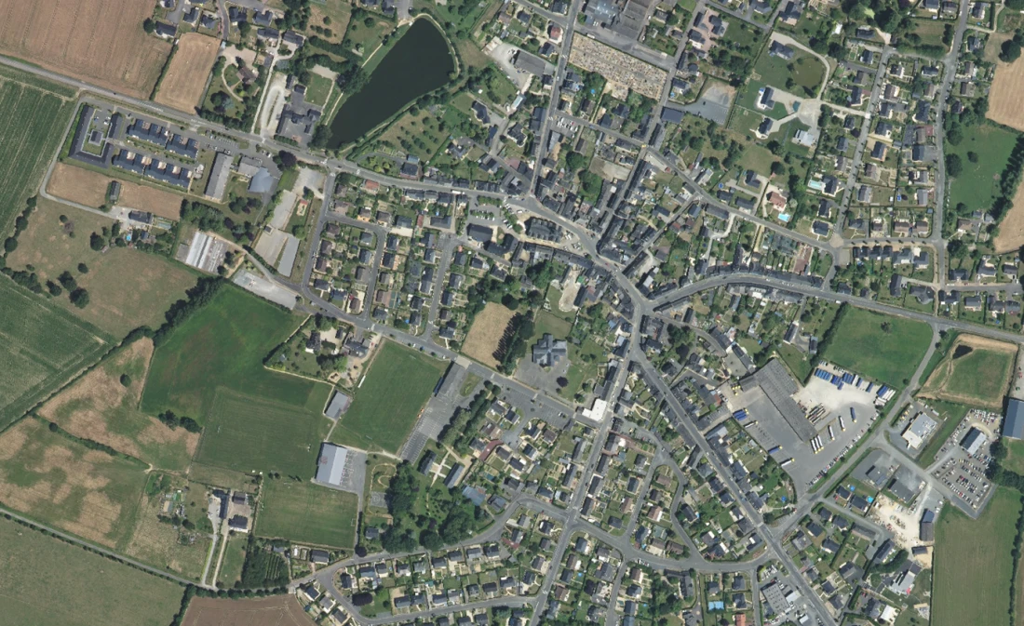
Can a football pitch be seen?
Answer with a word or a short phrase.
Yes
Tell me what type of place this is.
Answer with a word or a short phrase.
residential area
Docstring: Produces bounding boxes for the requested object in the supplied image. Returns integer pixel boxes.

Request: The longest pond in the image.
[327,17,455,148]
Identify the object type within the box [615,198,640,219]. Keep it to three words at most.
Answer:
house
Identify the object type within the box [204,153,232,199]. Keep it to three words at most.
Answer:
building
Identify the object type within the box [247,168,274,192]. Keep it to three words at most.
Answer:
building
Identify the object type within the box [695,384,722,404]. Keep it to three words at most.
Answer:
house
